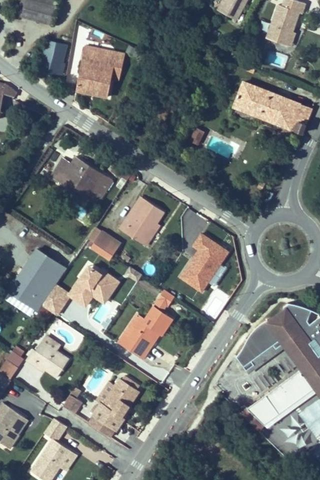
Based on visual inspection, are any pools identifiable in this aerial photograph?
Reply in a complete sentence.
Yes, the frame does contain a pool.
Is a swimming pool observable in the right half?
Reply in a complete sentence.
Yes, a swimming pool appears in the right half.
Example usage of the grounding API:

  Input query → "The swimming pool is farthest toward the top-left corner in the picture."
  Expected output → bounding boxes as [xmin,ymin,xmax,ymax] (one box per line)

[86,28,112,44]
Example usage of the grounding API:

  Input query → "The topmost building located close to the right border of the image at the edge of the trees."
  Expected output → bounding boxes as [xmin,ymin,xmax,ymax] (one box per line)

[266,0,306,46]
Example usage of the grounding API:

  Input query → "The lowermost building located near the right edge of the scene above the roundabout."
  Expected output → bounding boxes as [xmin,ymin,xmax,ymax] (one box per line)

[232,81,312,135]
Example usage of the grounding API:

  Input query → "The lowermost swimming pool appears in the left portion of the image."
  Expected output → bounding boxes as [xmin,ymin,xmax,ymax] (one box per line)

[82,364,112,396]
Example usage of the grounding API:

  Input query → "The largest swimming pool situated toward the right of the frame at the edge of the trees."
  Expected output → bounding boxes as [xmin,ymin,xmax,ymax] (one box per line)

[204,128,246,160]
